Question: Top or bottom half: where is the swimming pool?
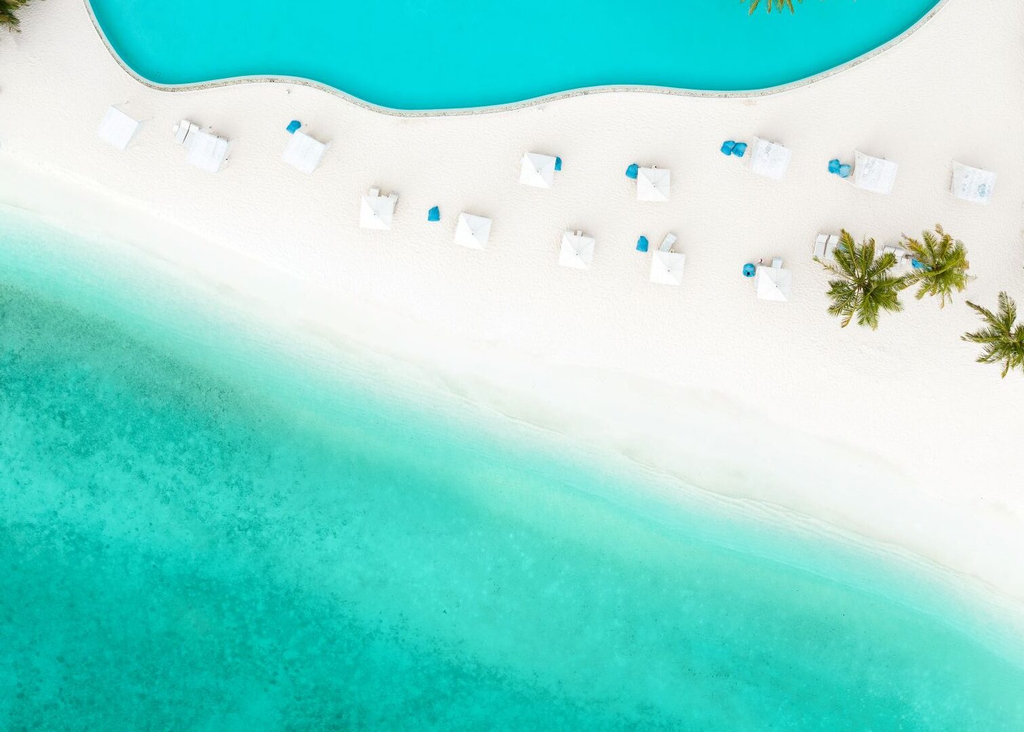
top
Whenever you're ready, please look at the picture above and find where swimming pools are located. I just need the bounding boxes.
[81,0,951,117]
